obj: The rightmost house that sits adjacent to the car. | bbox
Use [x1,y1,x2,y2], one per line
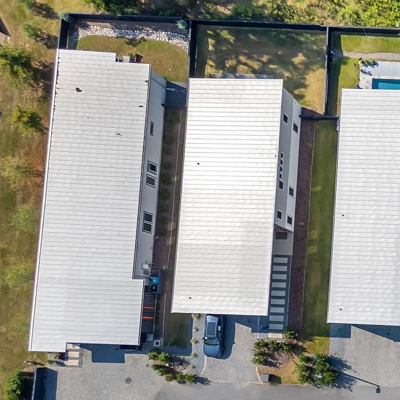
[169,78,301,316]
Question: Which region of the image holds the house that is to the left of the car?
left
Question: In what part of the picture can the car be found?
bottom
